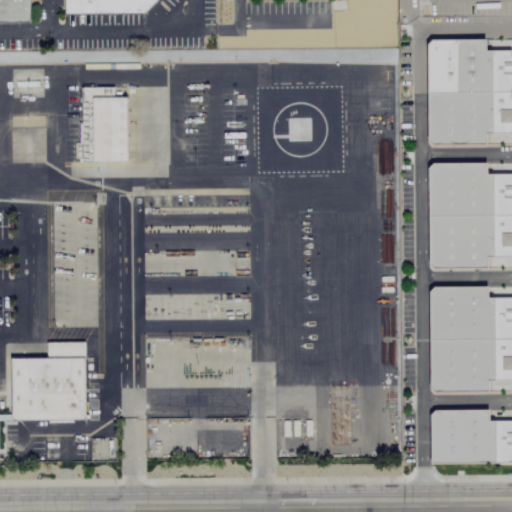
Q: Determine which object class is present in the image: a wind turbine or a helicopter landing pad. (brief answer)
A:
helicopter landing pad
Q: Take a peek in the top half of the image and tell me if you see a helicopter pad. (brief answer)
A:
Yes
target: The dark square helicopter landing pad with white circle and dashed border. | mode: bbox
[257,82,348,177]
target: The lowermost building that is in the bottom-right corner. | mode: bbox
[430,408,512,464]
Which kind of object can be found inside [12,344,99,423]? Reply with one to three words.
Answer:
building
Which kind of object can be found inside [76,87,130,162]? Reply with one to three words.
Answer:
building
